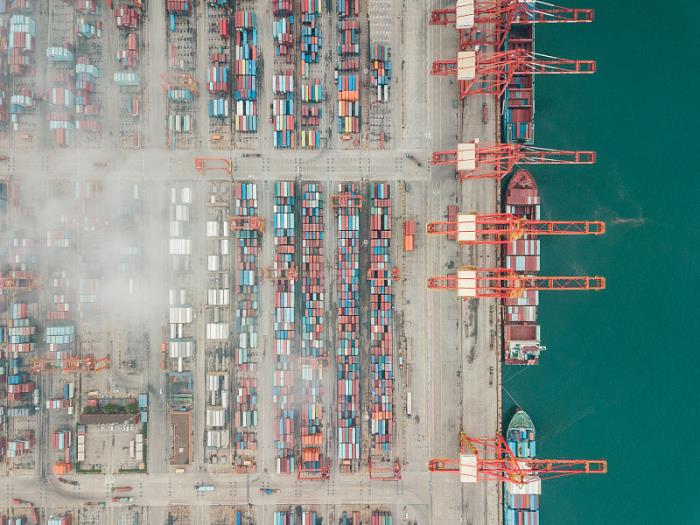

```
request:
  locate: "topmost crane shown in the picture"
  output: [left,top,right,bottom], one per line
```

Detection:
[432,0,594,58]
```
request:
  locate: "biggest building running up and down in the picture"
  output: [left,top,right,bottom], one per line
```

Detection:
[170,410,193,465]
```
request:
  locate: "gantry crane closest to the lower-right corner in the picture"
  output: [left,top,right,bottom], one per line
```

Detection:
[429,428,608,486]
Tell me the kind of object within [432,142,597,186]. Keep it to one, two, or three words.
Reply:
container crane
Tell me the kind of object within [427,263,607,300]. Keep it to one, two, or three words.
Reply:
container crane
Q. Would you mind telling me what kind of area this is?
port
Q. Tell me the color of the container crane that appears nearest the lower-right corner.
red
